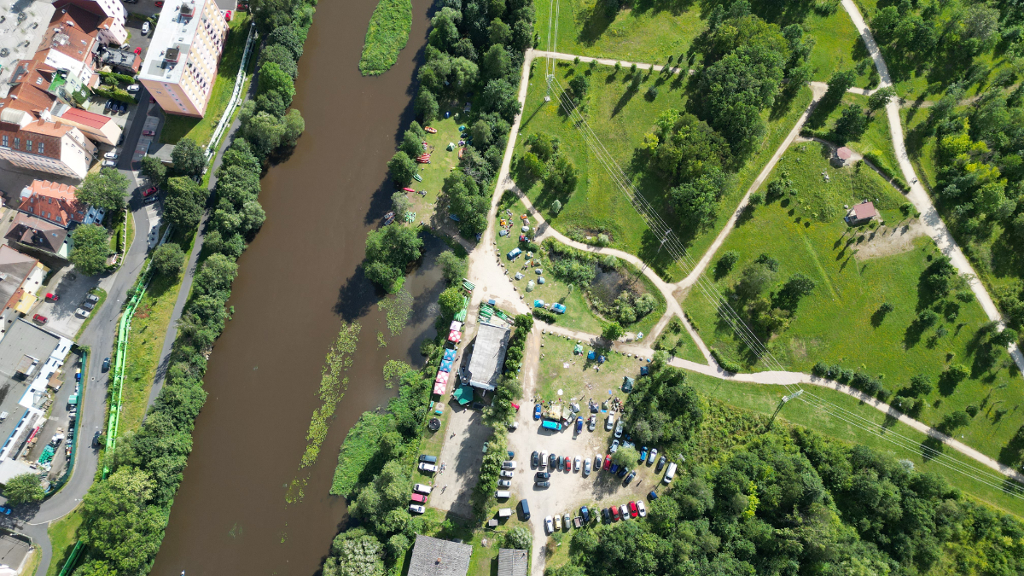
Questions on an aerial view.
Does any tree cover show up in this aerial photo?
Yes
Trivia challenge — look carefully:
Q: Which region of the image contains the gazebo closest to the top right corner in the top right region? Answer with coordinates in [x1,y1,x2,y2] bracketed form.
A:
[834,147,850,163]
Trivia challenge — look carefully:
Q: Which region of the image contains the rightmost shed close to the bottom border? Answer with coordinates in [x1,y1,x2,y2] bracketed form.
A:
[498,548,527,576]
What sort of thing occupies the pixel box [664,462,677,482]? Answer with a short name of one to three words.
vehicle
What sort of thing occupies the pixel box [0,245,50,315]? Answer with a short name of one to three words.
house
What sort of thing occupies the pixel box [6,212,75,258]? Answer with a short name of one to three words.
house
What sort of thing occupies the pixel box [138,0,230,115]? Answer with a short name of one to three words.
building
